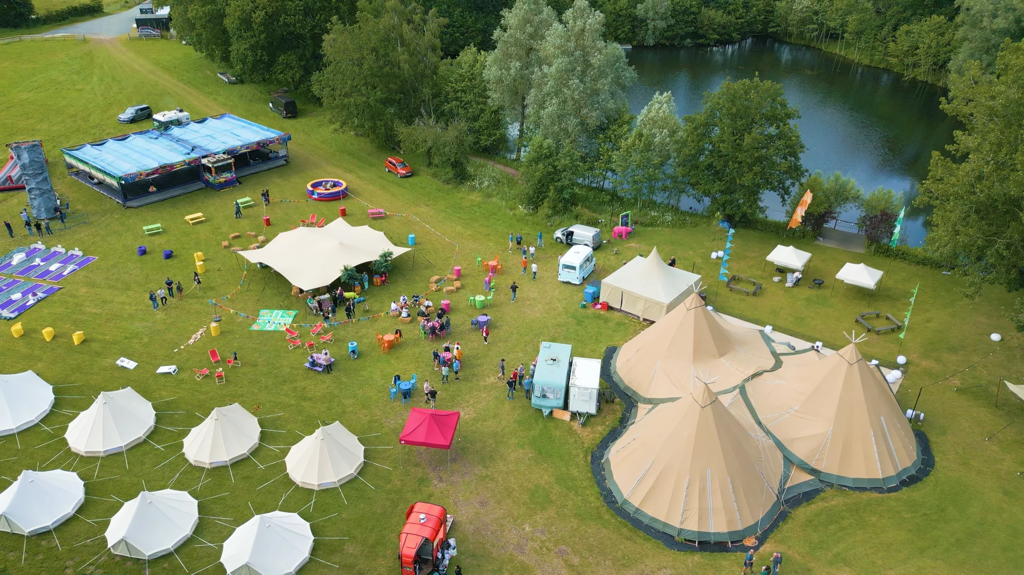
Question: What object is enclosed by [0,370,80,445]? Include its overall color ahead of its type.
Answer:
white tent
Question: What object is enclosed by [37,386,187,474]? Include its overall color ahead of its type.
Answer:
white tent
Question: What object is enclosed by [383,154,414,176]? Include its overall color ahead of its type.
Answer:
red car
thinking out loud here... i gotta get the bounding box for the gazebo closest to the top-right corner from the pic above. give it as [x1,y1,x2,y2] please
[830,263,883,310]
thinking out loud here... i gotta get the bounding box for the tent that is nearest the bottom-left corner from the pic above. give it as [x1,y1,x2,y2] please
[0,457,123,558]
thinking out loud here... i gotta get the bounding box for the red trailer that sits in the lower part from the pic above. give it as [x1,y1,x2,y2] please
[390,505,465,575]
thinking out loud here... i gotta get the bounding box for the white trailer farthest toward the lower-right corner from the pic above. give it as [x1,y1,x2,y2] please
[566,356,603,423]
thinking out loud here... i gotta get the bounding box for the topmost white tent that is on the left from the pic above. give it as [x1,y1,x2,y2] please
[216,218,441,338]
